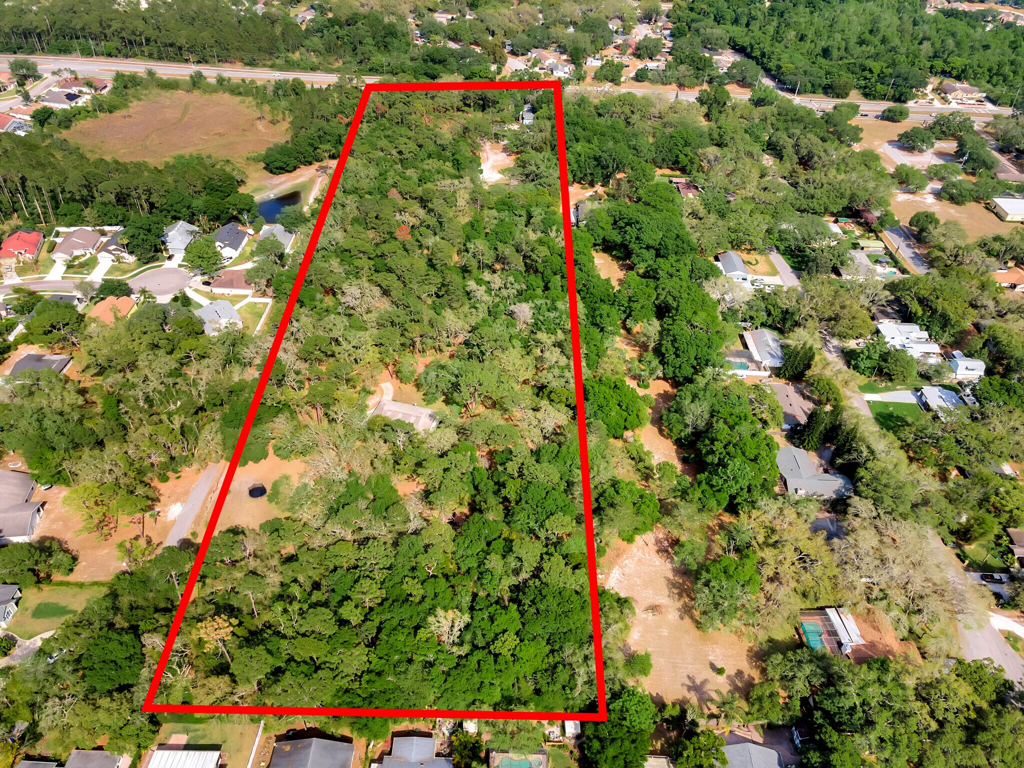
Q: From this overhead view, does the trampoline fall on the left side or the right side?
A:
left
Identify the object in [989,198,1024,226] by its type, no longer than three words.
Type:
building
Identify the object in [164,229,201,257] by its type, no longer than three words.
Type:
house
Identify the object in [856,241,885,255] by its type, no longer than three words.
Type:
shed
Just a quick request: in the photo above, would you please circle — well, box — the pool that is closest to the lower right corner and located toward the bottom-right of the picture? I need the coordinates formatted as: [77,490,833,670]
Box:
[800,611,843,653]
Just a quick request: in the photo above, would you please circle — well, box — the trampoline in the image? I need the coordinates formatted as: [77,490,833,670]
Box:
[246,481,267,501]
